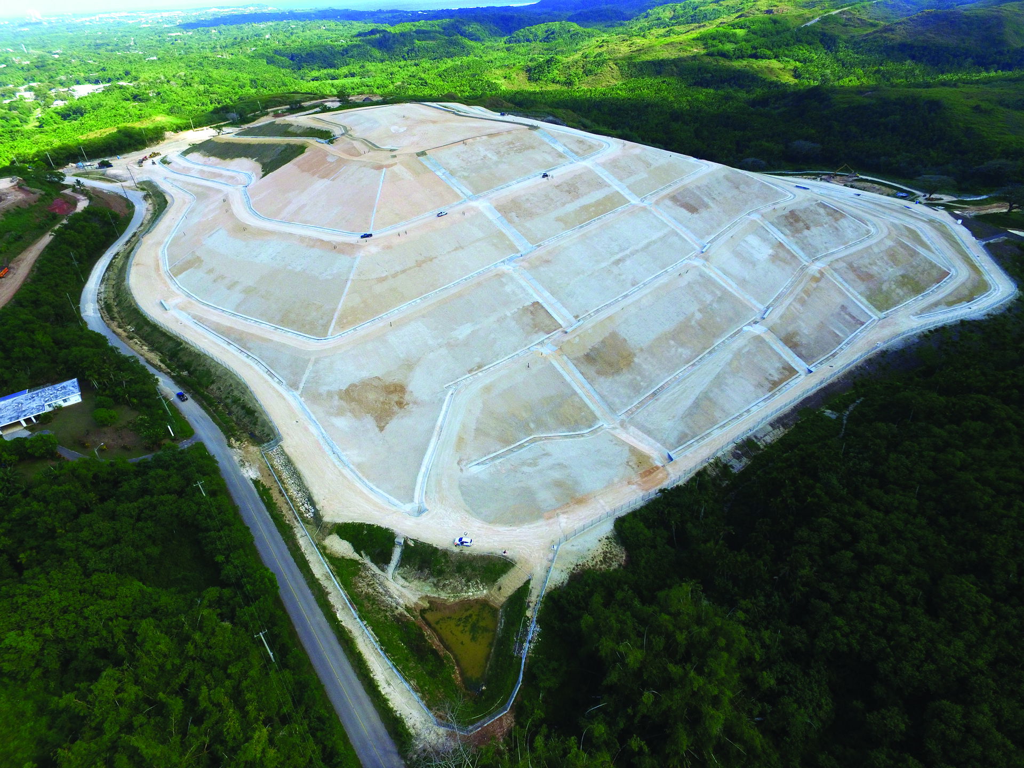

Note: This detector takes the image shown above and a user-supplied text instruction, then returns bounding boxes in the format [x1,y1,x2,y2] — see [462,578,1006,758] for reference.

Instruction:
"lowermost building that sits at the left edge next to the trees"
[0,377,82,433]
